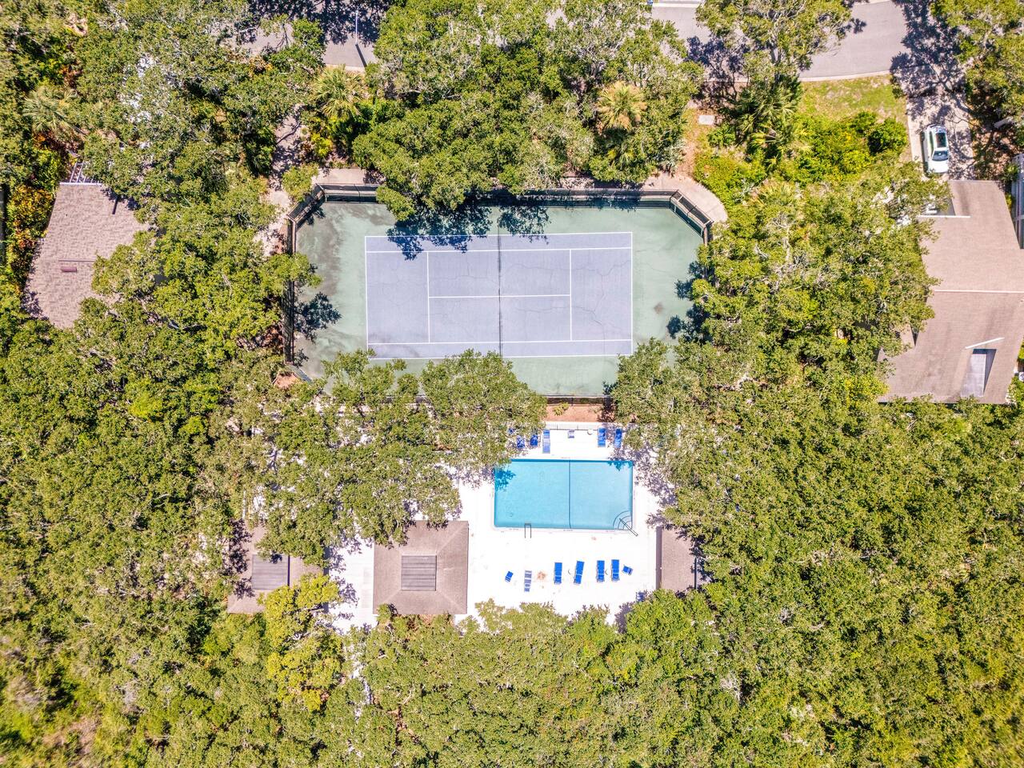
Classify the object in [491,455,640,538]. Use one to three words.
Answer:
swimming pool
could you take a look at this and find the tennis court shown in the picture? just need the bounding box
[288,188,708,402]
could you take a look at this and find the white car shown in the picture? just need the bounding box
[923,125,952,175]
